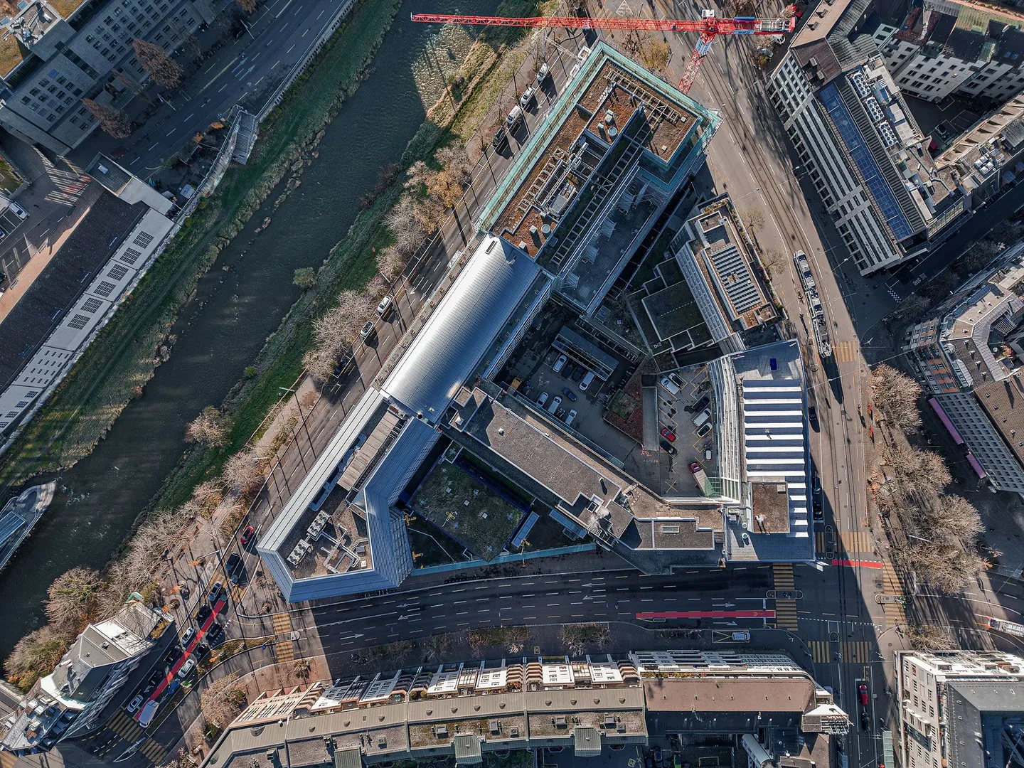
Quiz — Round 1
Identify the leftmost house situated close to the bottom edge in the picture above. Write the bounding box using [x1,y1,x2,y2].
[1,584,190,752]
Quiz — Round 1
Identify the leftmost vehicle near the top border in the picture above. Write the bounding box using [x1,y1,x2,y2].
[231,25,247,41]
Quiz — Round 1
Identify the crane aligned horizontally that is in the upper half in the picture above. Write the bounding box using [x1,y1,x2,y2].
[410,6,796,94]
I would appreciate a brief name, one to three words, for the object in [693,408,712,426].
vehicle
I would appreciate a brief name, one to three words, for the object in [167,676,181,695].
car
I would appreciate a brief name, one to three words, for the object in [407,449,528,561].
building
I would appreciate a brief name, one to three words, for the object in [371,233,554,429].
building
